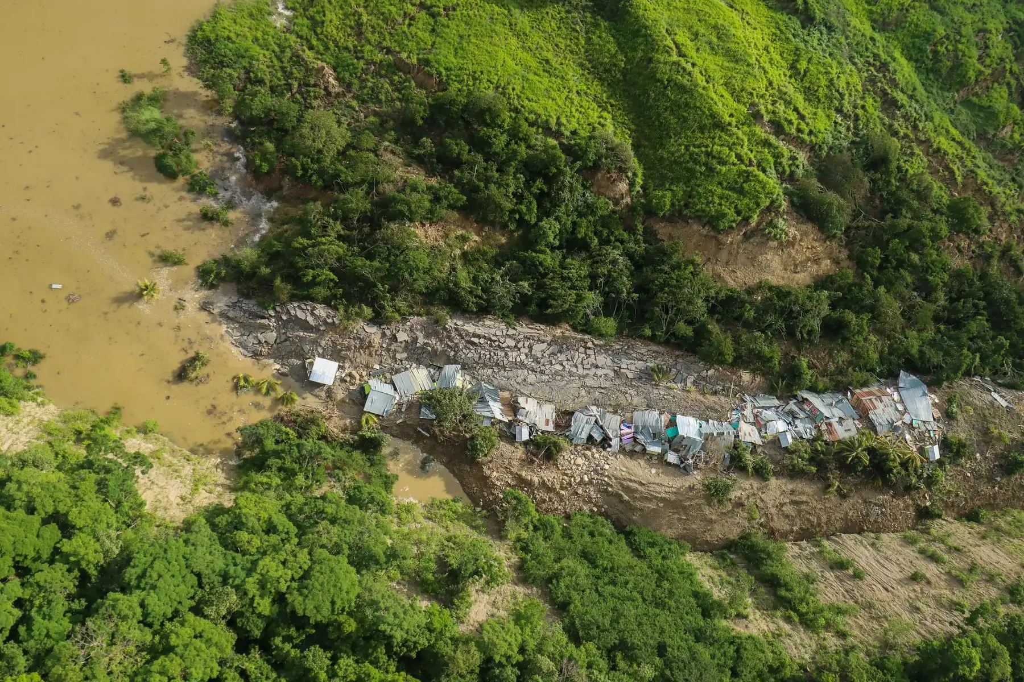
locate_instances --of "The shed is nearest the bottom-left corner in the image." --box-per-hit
[305,357,338,388]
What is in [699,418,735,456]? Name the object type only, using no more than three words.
house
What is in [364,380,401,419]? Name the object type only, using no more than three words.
house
